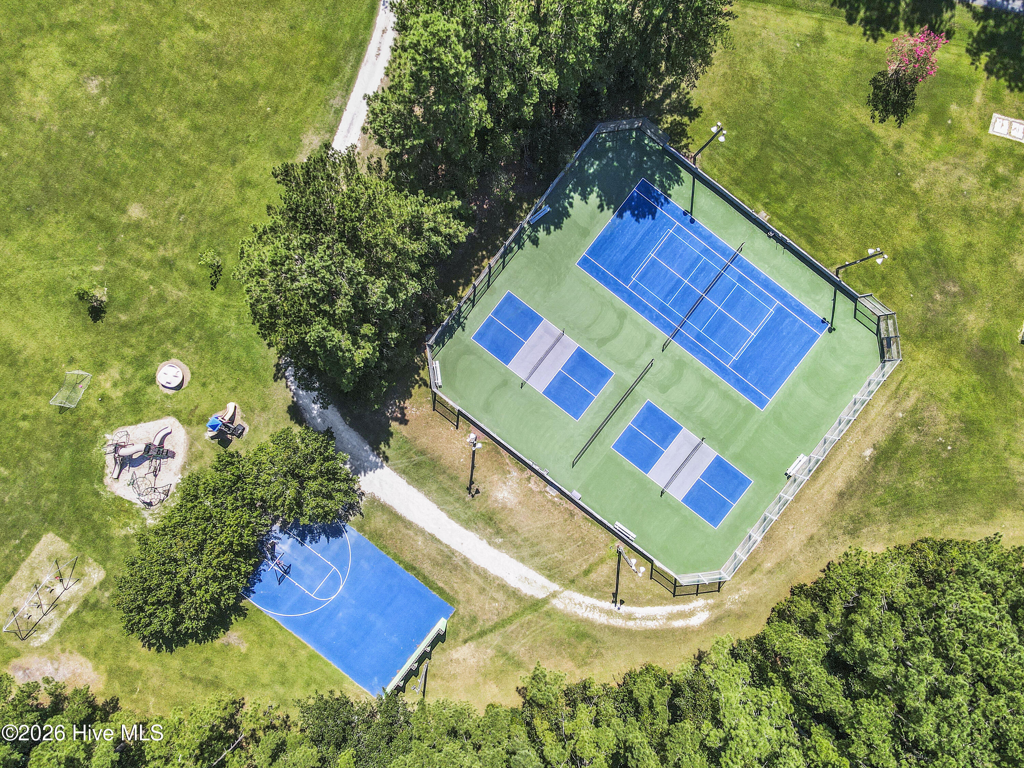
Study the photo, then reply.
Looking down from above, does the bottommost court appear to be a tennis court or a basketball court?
basketball court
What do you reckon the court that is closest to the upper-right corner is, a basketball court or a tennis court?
tennis court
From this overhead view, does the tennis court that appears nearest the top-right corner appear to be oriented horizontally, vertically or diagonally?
diagonally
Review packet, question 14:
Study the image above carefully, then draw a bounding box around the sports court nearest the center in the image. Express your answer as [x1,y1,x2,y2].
[472,291,614,420]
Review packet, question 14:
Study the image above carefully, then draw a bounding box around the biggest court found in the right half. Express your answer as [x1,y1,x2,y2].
[576,179,830,410]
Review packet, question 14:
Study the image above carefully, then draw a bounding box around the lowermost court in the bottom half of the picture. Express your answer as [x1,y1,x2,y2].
[230,509,455,699]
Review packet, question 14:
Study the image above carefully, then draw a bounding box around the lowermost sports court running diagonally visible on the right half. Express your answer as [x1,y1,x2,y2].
[610,399,754,529]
